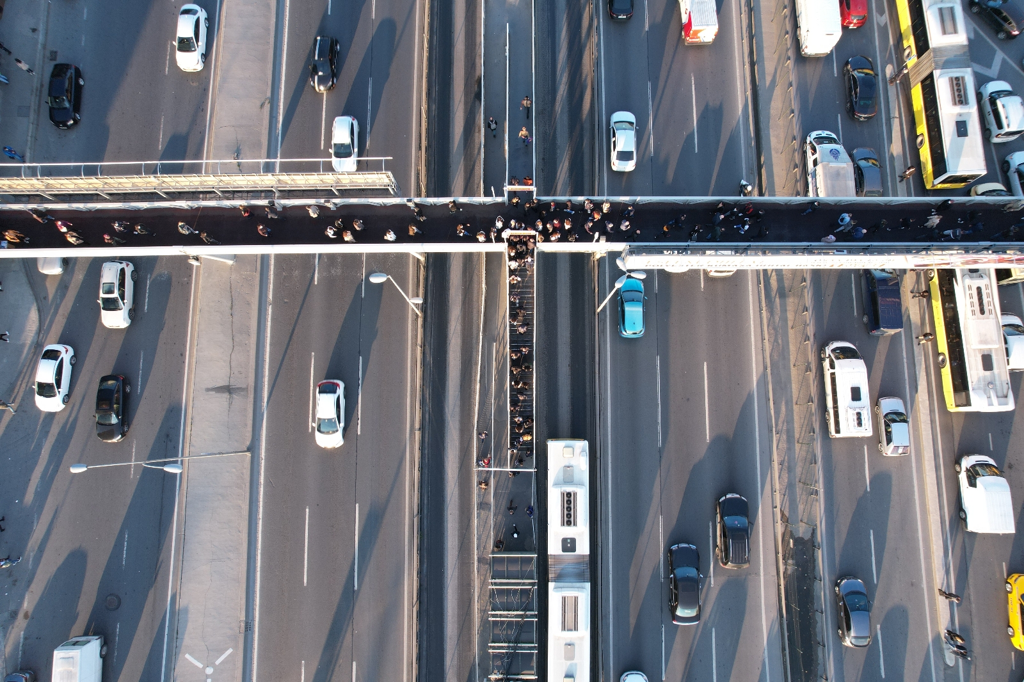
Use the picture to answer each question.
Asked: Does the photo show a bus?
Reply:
Yes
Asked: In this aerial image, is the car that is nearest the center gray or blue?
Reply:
blue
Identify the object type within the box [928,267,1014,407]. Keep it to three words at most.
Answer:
bus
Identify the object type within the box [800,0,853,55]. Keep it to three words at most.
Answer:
truck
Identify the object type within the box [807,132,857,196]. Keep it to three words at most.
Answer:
van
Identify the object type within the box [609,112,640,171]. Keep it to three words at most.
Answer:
car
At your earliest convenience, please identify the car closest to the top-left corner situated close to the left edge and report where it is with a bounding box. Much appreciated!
[44,62,87,129]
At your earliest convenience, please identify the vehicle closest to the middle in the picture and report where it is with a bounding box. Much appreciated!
[616,281,649,337]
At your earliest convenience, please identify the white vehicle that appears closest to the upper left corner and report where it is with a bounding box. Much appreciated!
[173,3,210,71]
